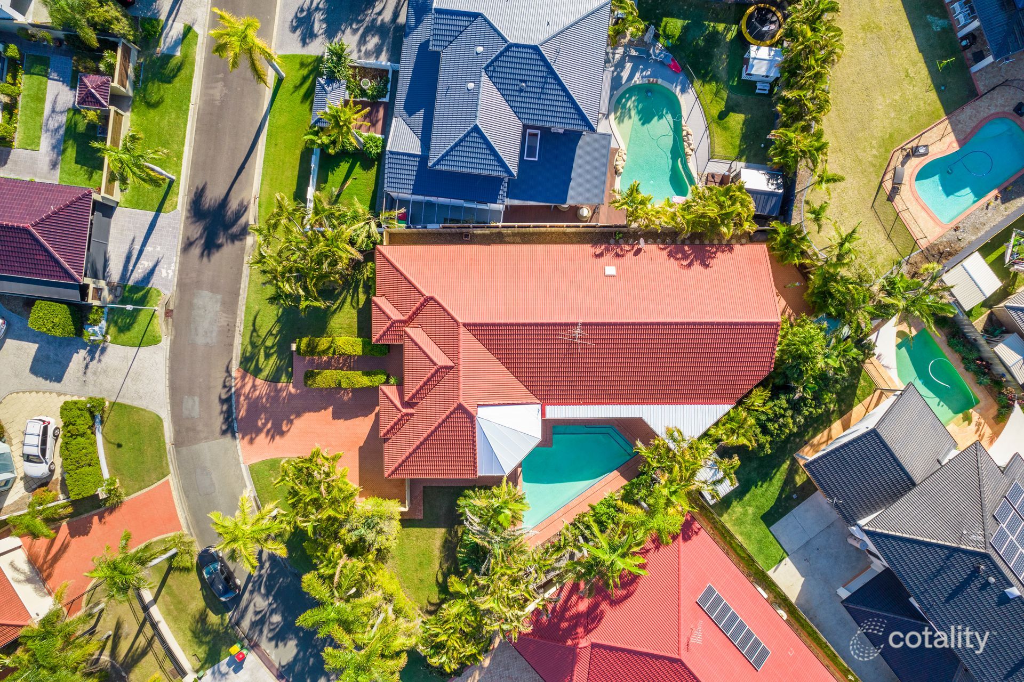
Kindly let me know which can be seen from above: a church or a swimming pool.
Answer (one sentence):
There is a swimming pool in the scene.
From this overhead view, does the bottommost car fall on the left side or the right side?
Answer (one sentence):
The bottommost car sits on the left side.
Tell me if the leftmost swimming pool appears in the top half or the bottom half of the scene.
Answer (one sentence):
Seen from above, the leftmost swimming pool lies in the bottom half of the view.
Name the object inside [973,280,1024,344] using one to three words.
house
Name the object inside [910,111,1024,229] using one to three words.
swimming pool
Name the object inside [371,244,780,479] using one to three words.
house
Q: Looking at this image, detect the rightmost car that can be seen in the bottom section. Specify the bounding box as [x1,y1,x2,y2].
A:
[192,548,241,609]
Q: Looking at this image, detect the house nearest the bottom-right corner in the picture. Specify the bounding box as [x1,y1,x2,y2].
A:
[798,381,1024,682]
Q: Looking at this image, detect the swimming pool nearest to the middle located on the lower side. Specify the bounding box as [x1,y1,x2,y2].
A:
[519,423,640,526]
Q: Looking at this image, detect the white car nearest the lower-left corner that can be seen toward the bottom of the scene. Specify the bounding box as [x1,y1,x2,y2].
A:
[17,420,59,480]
